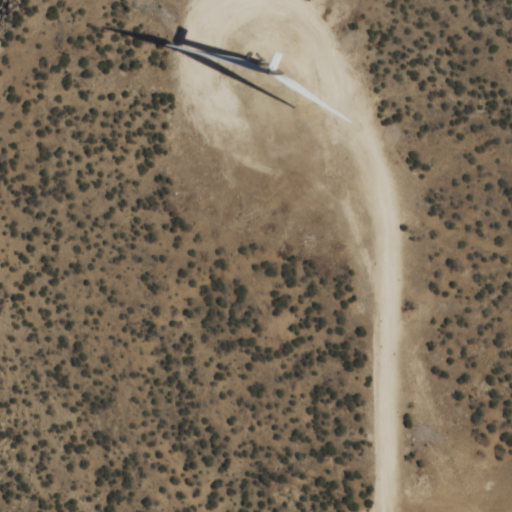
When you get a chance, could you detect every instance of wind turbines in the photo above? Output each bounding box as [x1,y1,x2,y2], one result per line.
[166,46,352,124]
